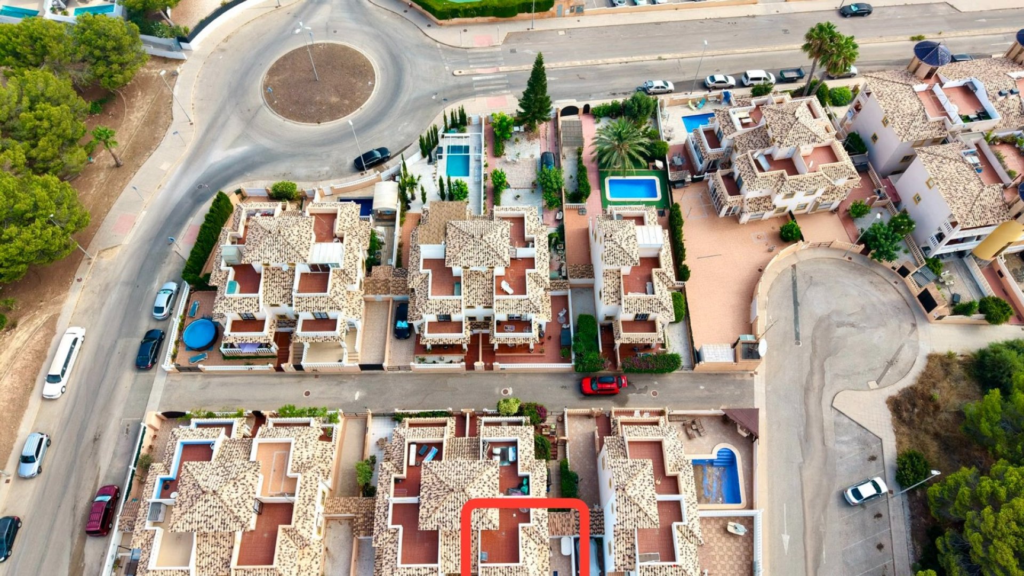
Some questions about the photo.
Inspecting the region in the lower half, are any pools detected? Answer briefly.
Yes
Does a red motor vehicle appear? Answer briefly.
Yes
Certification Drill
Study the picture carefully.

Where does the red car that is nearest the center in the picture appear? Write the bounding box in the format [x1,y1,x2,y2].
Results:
[578,374,633,400]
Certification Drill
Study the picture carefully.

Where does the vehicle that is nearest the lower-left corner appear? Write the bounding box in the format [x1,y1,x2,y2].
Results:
[0,516,26,563]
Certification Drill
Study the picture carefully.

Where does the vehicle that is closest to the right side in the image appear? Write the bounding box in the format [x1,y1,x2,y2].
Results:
[952,48,982,66]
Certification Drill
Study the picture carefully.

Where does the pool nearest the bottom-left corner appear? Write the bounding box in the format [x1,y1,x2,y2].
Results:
[176,315,222,356]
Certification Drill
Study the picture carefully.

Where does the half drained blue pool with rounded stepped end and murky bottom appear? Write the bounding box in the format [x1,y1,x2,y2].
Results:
[691,442,747,510]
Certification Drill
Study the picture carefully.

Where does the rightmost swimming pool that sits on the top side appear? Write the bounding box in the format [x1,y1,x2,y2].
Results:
[680,112,711,142]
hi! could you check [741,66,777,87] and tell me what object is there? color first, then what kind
white car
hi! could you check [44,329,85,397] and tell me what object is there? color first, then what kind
white car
